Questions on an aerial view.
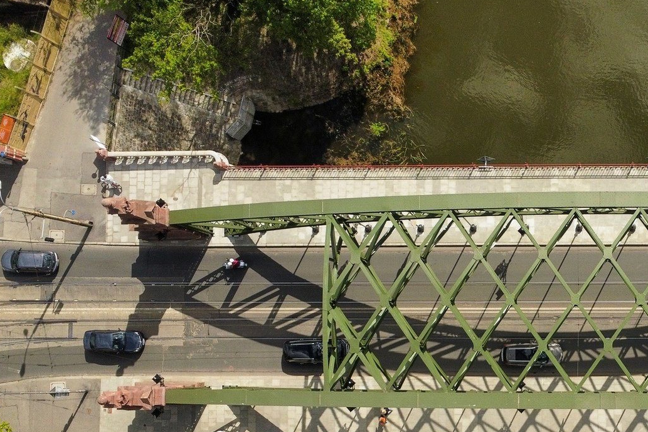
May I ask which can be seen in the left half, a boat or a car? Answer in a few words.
car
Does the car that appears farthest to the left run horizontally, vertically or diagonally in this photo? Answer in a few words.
horizontally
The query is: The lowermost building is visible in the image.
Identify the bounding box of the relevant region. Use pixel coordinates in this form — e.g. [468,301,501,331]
[0,130,30,160]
